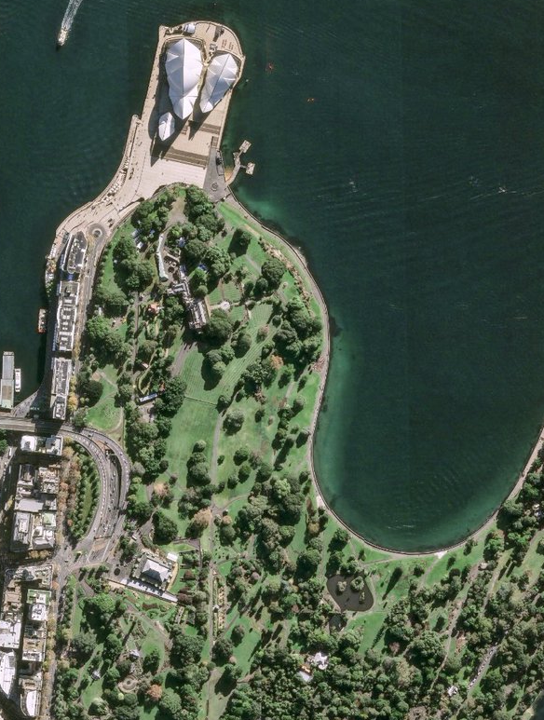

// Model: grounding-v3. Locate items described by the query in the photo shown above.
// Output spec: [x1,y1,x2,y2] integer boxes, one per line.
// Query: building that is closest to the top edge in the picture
[151,24,241,167]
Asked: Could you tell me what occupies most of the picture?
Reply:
water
